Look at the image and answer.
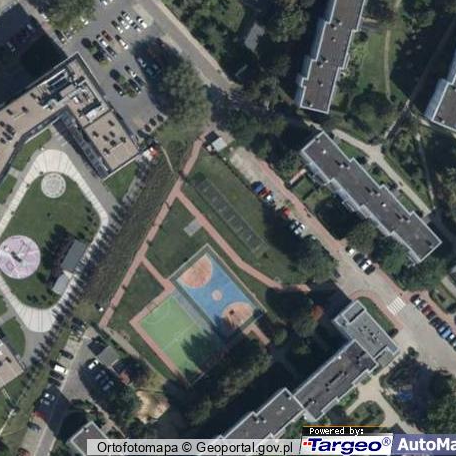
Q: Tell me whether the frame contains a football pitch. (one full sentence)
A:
Yes, the image includes a football pitch.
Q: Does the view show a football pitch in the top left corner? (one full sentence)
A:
No, the scene shows no football pitch in the top left corner.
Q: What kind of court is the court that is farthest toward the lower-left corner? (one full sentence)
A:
The court that is farthest toward the lower-left corner appears to be a basketball court.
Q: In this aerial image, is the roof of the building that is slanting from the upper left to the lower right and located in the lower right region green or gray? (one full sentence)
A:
In this view, the roof of the building that is slanting from the upper left to the lower right and located in the lower right region is gray.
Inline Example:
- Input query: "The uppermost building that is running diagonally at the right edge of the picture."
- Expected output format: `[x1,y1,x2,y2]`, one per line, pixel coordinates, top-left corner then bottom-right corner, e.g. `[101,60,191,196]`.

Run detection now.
[294,130,442,262]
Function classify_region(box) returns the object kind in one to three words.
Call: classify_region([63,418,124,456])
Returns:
building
